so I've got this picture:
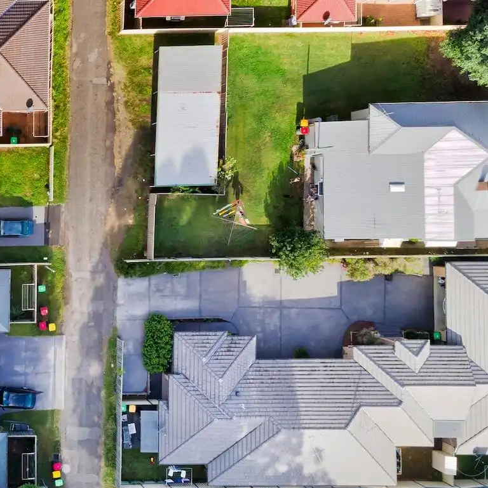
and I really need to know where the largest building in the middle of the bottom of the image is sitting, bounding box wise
[157,329,434,487]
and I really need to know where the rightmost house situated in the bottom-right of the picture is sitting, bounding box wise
[344,260,488,457]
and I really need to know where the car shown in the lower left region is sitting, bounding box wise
[0,384,39,409]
